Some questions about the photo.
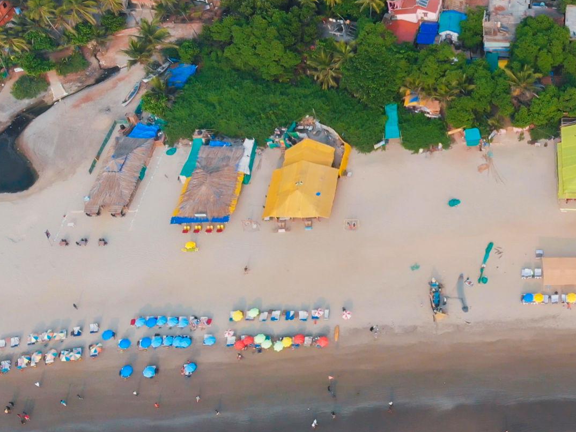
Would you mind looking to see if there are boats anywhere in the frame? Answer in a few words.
Yes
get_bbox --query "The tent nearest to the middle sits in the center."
[263,138,341,224]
